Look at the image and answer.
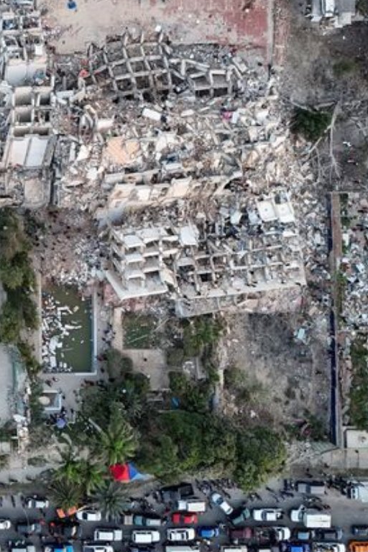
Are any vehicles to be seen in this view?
Yes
